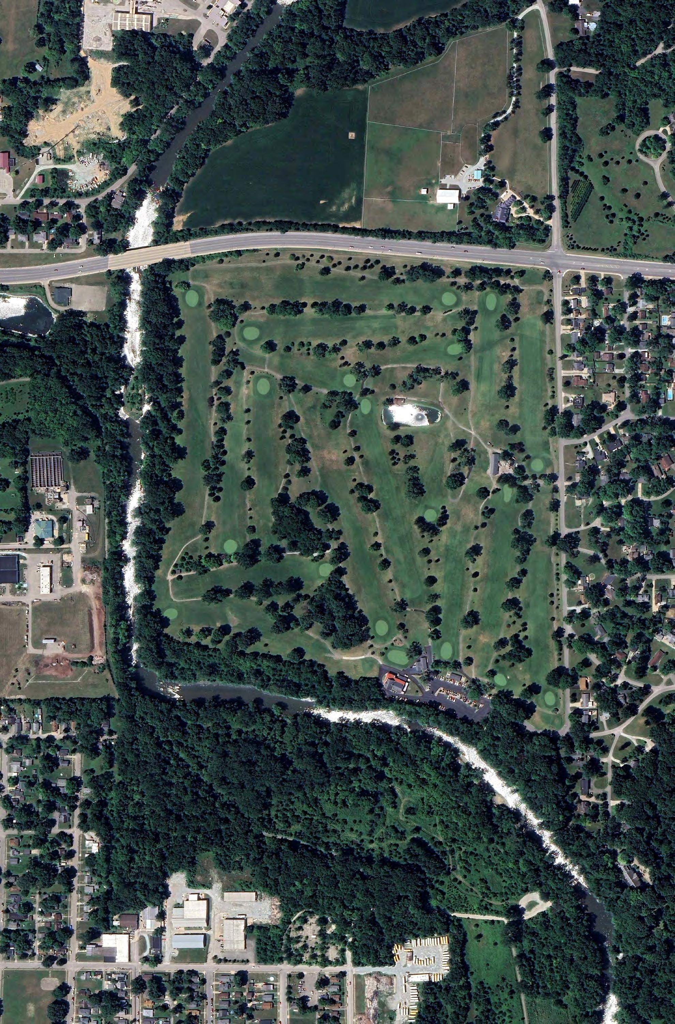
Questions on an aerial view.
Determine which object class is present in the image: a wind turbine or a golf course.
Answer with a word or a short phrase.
golf course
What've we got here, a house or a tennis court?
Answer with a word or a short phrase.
house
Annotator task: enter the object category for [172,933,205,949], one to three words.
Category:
building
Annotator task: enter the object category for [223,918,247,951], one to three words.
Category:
building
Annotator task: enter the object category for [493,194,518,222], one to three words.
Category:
house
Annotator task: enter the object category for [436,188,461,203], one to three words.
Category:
barn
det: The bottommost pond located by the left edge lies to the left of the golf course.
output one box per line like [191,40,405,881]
[0,294,54,336]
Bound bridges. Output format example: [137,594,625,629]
[107,240,196,270]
